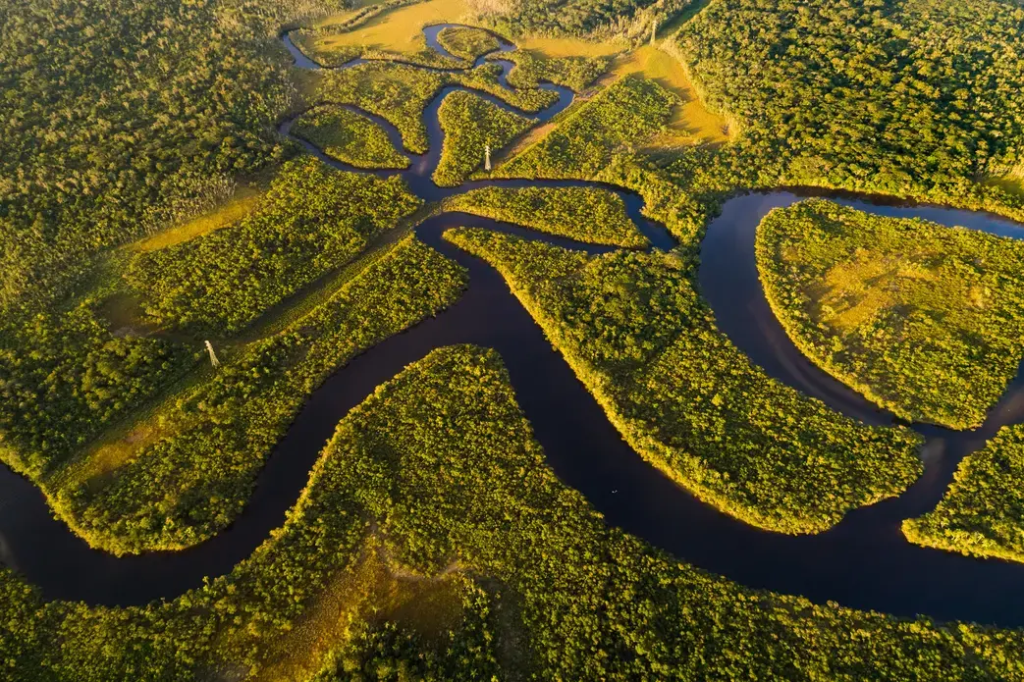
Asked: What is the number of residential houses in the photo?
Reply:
none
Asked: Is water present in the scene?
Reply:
Yes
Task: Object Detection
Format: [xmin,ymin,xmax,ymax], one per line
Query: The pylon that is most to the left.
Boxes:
[203,339,220,366]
